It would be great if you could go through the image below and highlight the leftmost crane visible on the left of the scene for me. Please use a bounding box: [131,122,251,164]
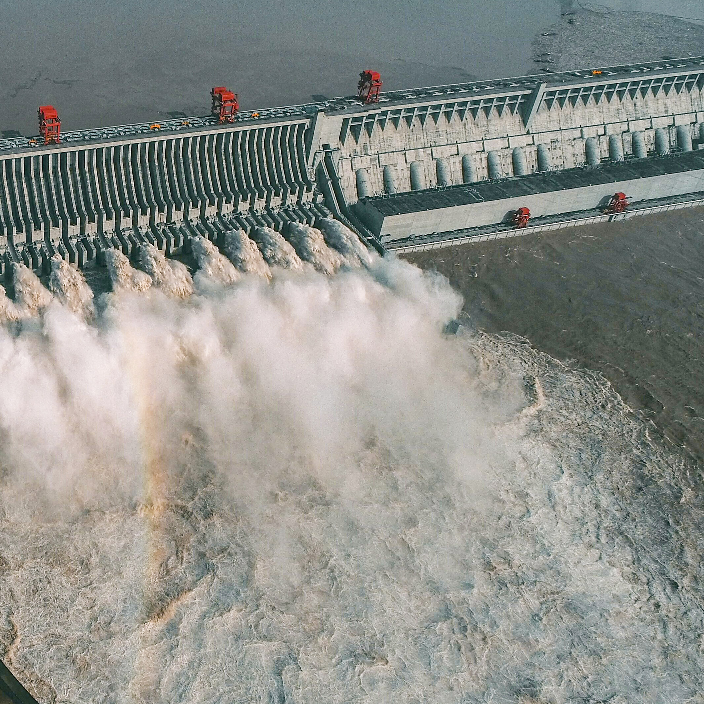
[39,103,61,143]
